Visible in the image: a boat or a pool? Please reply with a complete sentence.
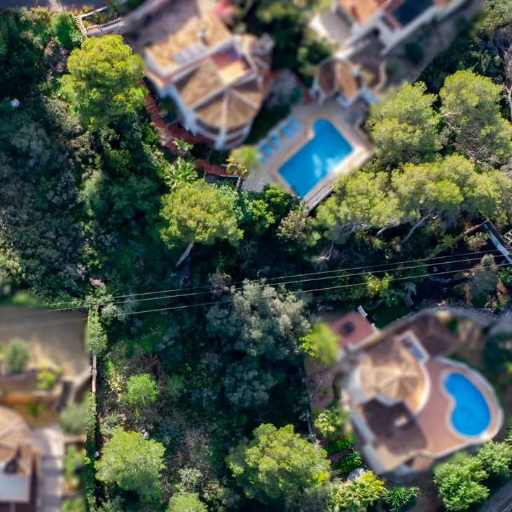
Visible in the photo is a pool.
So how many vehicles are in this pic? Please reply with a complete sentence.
The picture shows no vehicles.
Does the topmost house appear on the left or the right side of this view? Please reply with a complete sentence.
You can find the topmost house on the right side of the picture.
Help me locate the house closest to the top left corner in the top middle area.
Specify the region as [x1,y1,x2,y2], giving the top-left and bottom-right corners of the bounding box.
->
[138,9,274,159]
